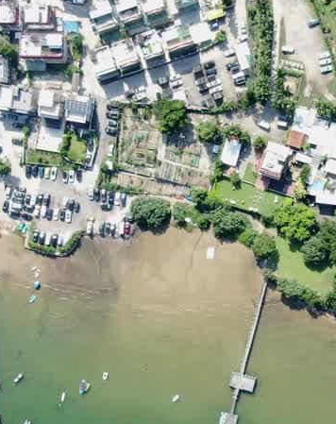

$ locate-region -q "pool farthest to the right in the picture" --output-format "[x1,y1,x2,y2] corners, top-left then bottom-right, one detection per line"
[310,177,328,193]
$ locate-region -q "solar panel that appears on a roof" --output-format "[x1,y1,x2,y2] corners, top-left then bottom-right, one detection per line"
[64,96,86,111]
